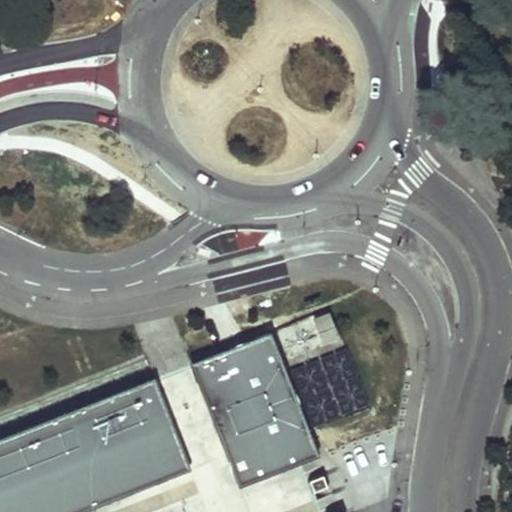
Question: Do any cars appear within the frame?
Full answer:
Yes, this view includes a car.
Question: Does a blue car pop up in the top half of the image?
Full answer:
No, no blue car can be made out in the top half of the image.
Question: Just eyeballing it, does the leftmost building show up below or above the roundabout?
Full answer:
Within the scene, the leftmost building can be found below the roundabout.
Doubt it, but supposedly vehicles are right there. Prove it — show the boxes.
[370,78,380,98]
[348,140,366,161]
[195,171,218,188]
[376,445,388,467]
[345,454,360,477]
[389,140,405,161]
[392,500,403,512]
[292,180,314,195]
[96,113,118,126]
[354,447,369,469]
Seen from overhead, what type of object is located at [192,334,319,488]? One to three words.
building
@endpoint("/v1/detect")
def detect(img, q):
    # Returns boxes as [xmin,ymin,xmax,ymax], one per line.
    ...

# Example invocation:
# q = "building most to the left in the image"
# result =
[0,380,190,512]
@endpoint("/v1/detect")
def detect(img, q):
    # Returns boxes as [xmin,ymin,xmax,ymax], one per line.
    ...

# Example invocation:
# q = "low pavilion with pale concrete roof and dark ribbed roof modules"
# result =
[278,312,370,428]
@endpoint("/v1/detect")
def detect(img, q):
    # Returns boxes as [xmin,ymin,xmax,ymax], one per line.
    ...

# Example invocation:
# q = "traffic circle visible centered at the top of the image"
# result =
[118,0,419,226]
